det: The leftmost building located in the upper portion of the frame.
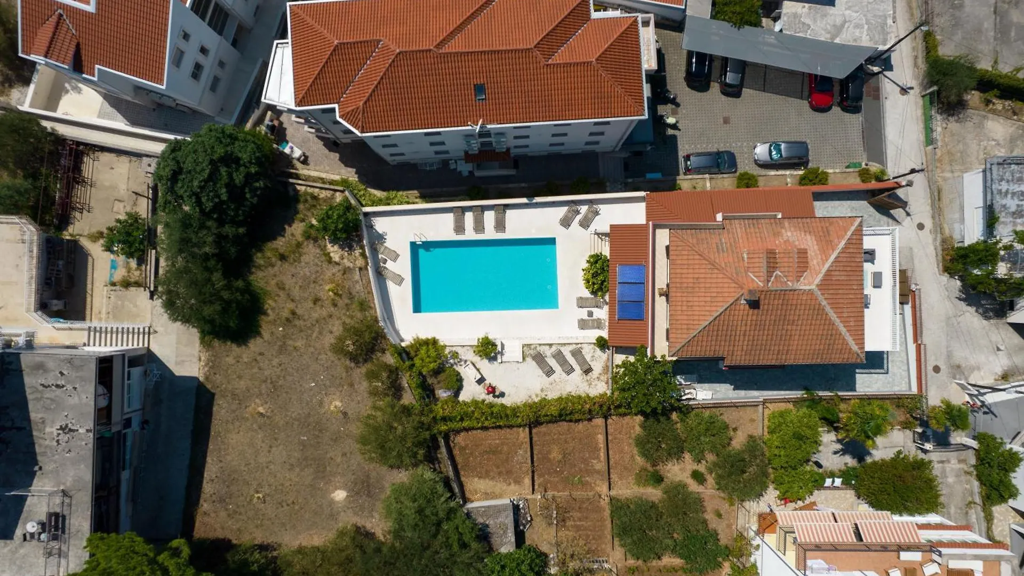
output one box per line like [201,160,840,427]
[14,0,245,110]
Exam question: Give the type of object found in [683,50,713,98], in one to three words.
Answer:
car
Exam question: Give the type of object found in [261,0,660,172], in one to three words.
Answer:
building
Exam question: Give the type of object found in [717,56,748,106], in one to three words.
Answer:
car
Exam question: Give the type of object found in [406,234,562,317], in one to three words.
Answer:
swimming pool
